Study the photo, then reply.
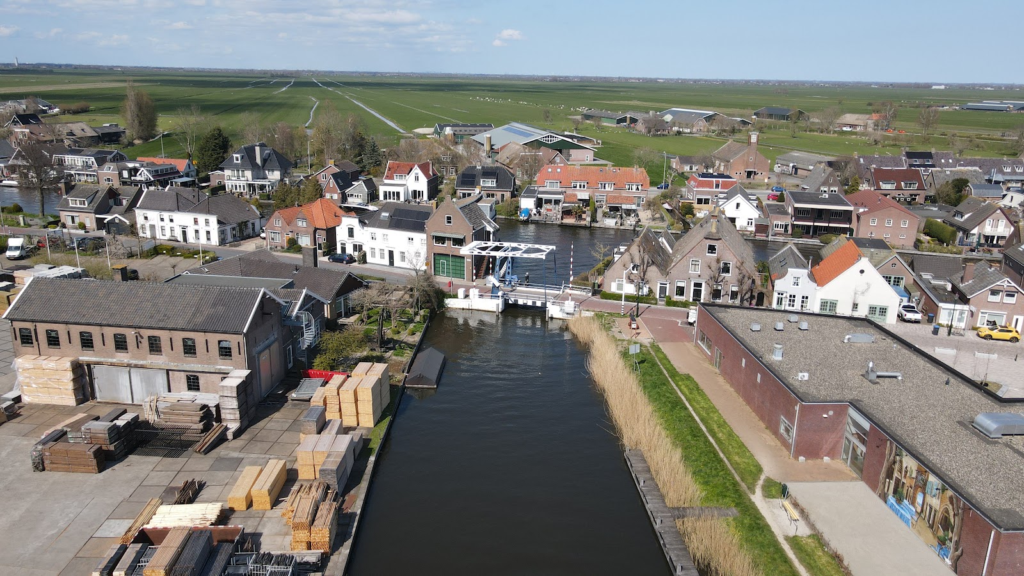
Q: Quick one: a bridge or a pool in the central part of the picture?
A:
bridge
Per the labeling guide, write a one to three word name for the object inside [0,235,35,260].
truck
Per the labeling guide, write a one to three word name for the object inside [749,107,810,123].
barn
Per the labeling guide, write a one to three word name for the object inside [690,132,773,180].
building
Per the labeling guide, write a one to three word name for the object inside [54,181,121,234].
house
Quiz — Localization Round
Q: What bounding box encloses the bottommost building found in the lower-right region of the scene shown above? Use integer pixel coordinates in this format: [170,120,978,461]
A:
[694,303,1024,576]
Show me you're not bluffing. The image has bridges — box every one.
[459,239,561,311]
